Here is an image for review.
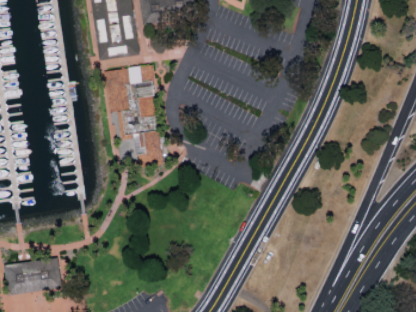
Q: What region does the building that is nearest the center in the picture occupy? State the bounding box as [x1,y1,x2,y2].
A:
[104,64,166,166]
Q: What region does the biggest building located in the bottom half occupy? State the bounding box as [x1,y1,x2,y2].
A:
[4,258,62,296]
